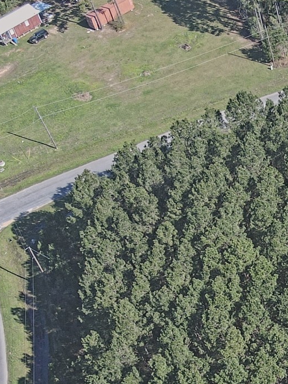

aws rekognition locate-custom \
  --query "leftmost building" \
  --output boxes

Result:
[0,4,43,45]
